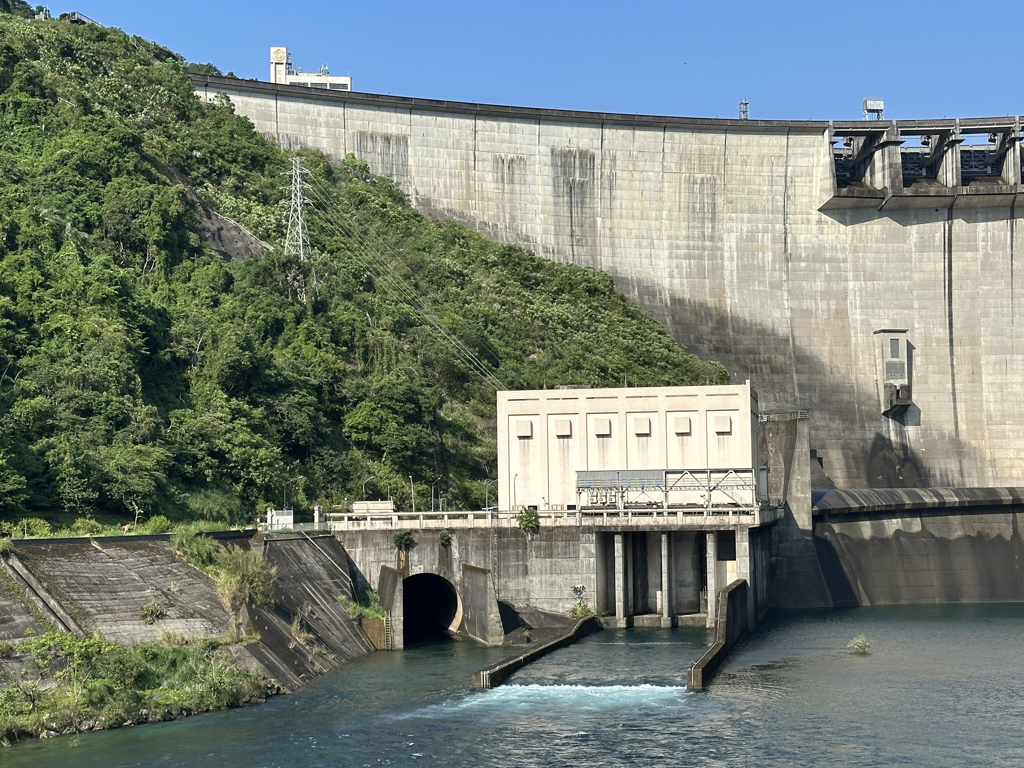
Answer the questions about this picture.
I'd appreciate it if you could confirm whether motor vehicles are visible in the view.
No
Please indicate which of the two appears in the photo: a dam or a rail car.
dam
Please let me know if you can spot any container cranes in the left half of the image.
No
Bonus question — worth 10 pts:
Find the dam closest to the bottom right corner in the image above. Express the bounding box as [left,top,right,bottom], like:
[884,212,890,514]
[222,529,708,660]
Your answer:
[811,486,1024,608]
